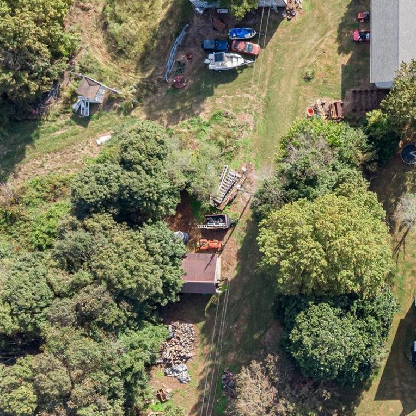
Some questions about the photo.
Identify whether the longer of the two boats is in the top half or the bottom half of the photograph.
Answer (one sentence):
The top half of the photo is where the longer of the two boats is.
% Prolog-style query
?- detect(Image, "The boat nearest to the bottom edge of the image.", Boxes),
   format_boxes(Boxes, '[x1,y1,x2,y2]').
[205,51,262,72]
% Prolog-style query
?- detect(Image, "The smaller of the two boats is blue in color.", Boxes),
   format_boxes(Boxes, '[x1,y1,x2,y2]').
[228,26,260,40]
